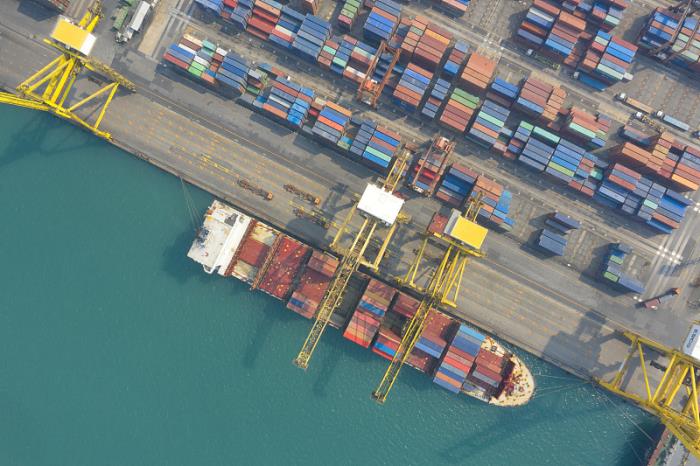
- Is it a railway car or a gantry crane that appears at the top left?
gantry crane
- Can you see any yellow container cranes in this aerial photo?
Yes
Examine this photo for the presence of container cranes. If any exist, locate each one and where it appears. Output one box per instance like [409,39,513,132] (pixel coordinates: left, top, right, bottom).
[295,152,414,368]
[600,323,700,454]
[375,192,492,407]
[0,0,132,134]
[352,40,403,117]
[401,135,455,200]
[633,0,700,72]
